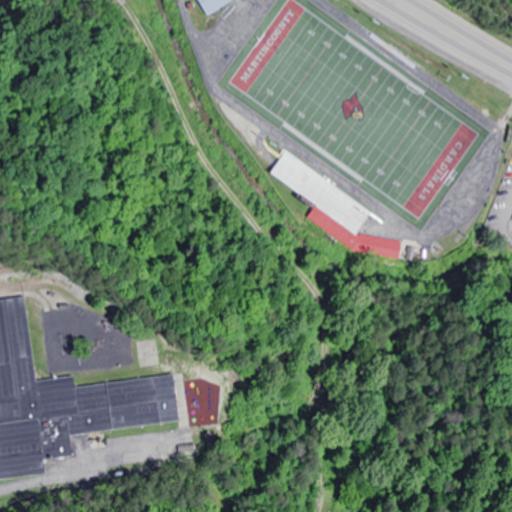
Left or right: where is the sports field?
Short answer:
right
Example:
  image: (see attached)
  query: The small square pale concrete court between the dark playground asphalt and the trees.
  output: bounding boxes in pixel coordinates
[136,339,159,367]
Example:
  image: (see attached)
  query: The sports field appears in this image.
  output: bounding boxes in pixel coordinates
[219,0,490,228]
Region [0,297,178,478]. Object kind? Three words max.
building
